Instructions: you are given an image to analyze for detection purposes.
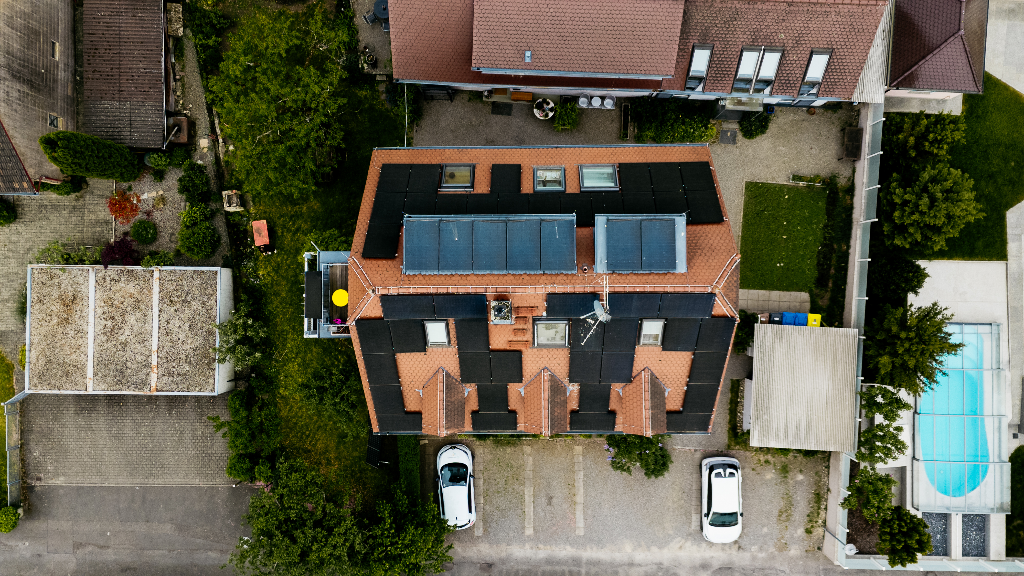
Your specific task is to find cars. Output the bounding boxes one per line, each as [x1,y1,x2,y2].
[435,443,478,531]
[700,456,748,543]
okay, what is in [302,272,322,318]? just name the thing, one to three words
solar panel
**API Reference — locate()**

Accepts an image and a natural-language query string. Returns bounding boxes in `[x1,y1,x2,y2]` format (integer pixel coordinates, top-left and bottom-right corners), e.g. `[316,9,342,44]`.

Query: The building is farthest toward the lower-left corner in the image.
[28,264,237,395]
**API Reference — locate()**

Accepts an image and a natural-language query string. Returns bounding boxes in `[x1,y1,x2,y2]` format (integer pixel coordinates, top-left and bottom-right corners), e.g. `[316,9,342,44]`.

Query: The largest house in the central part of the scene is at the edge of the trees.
[336,142,745,439]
